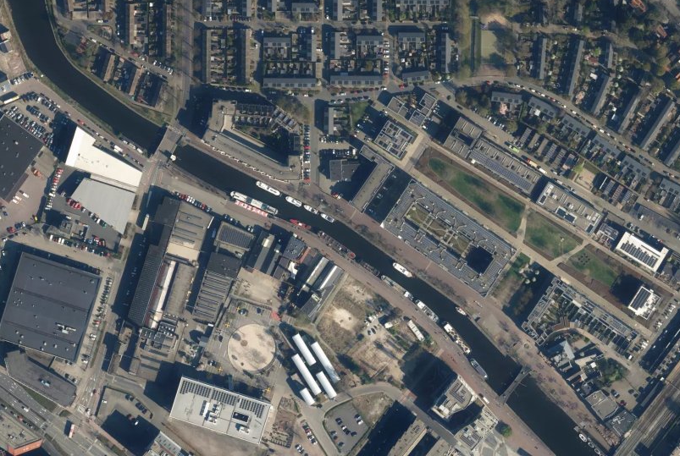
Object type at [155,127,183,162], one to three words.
bridge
